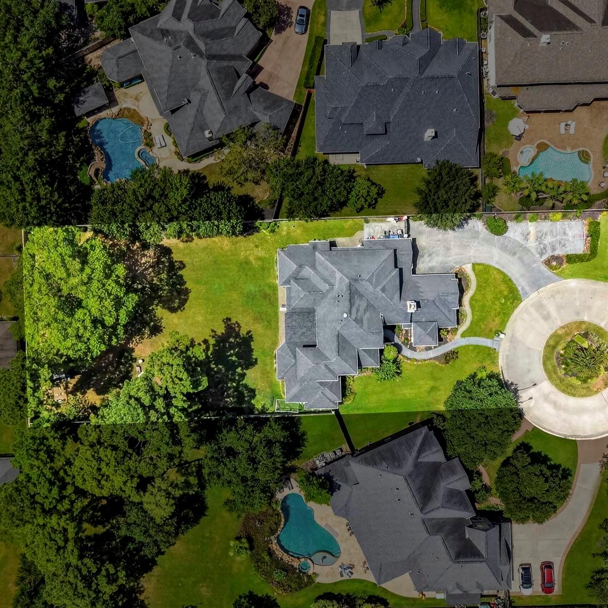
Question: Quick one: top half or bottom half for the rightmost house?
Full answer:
Seen from above, the rightmost house lies in the top half of the view.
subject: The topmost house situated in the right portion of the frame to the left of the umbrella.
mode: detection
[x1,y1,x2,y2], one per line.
[317,17,480,168]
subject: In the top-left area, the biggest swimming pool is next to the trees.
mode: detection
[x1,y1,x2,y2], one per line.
[87,116,150,182]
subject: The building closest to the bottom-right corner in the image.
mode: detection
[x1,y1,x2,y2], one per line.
[315,427,512,606]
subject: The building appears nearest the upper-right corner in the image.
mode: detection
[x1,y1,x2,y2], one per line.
[487,0,608,115]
